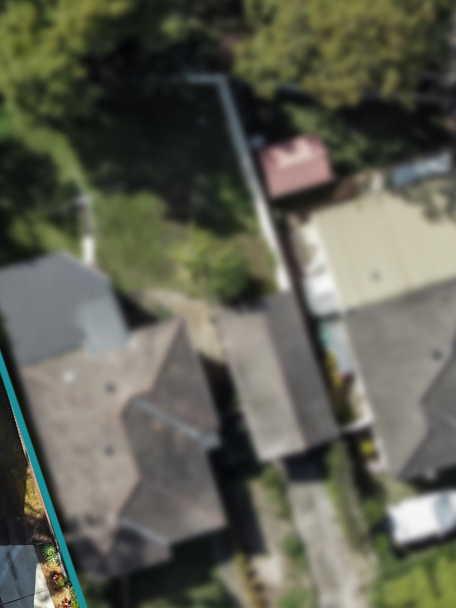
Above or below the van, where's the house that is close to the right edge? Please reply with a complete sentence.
As seen from overhead, the house that is close to the right edge falls above the van in the picture.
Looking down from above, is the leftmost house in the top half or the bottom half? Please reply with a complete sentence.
You can find the leftmost house in the bottom half.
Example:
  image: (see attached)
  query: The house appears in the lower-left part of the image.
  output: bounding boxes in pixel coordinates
[18,316,229,588]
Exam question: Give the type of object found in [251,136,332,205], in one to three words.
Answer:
shed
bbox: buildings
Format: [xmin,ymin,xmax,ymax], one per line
[208,292,340,464]
[18,316,229,588]
[344,277,456,481]
[251,136,332,205]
